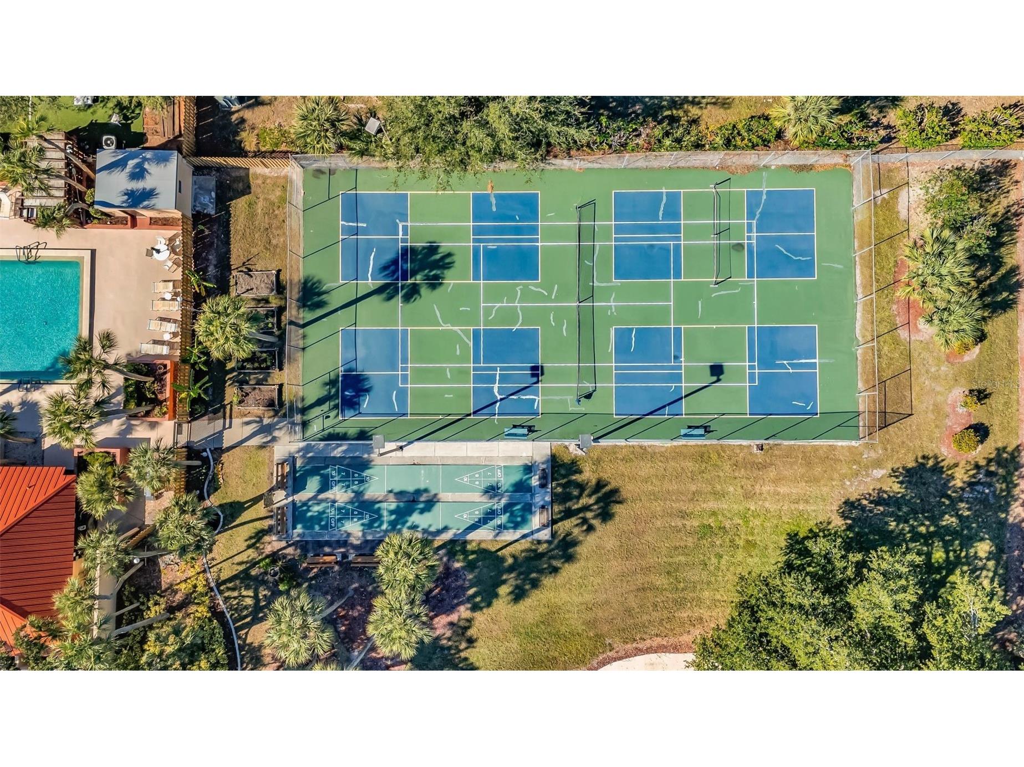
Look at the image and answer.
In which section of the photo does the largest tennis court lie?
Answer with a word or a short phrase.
center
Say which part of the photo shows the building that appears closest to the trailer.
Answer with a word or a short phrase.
top left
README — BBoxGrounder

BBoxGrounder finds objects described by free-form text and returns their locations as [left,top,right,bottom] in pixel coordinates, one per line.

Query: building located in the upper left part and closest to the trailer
[95,148,192,218]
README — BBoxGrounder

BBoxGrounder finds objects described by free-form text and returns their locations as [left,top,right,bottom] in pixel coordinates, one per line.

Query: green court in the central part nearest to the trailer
[302,167,860,441]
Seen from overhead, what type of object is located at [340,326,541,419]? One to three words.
sports court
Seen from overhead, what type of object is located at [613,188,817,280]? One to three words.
sports court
